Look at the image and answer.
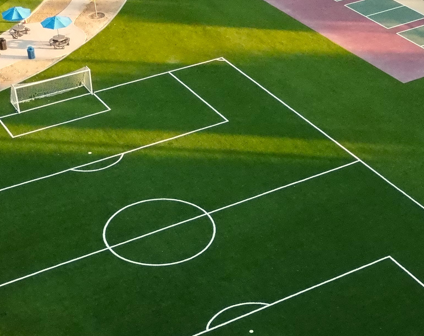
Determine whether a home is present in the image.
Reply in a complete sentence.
No, there's no home here.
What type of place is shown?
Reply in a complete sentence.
This looks like a sports ground.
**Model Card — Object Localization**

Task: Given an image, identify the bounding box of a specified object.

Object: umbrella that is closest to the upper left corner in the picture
[0,6,29,24]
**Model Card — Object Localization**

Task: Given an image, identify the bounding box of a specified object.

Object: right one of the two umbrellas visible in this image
[42,14,72,33]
